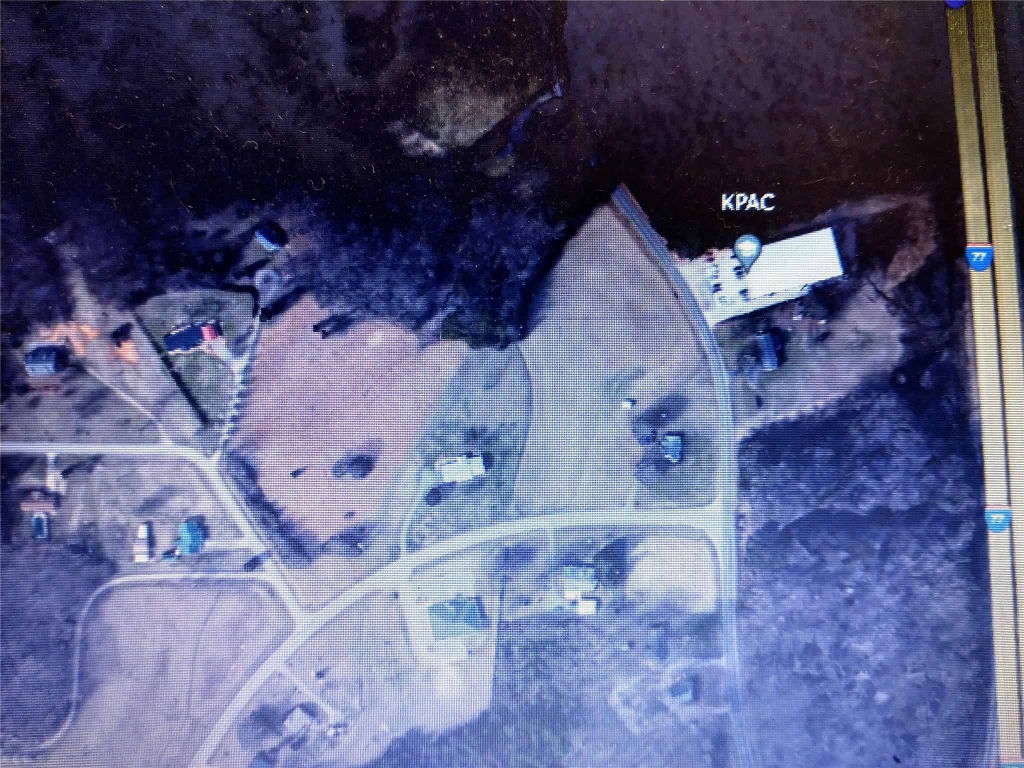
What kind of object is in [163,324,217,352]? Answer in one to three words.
house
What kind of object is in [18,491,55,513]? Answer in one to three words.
house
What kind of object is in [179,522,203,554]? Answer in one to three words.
barn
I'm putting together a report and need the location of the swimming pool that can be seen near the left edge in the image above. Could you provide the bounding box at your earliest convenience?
[33,513,48,539]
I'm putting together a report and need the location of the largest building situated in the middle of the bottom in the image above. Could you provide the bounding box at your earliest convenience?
[428,598,486,641]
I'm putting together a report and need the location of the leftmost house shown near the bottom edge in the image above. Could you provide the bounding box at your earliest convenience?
[284,707,312,735]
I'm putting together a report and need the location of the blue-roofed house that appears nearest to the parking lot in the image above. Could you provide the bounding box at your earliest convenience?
[758,332,785,371]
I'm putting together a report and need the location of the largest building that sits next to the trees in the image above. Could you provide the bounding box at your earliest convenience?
[745,228,844,297]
